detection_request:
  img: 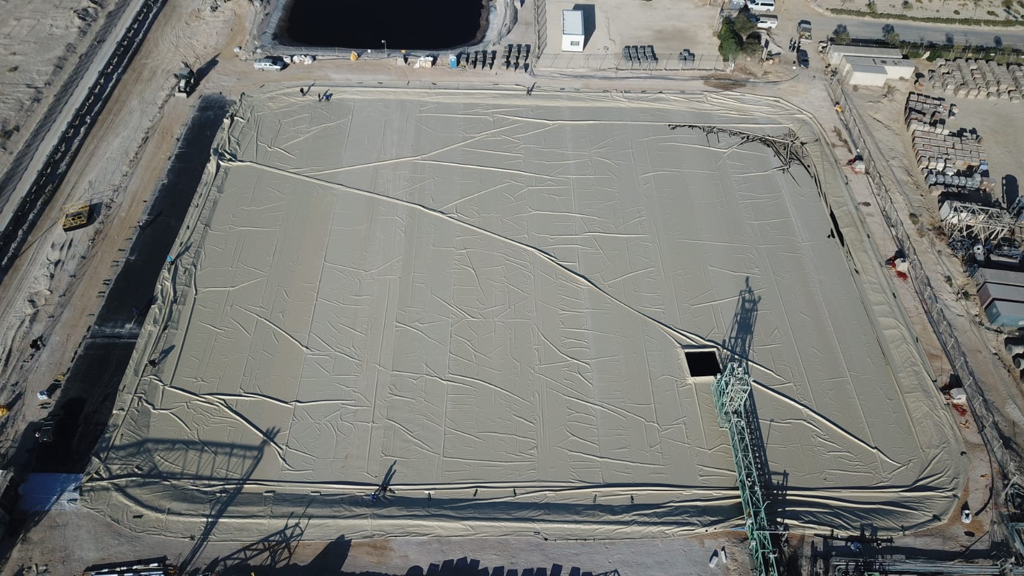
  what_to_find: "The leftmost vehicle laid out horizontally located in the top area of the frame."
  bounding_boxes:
[251,55,285,70]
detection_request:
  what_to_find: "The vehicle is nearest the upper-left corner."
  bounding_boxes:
[168,60,193,96]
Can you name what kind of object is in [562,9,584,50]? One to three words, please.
building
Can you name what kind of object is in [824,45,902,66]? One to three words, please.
building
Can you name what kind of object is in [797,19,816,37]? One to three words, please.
vehicle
